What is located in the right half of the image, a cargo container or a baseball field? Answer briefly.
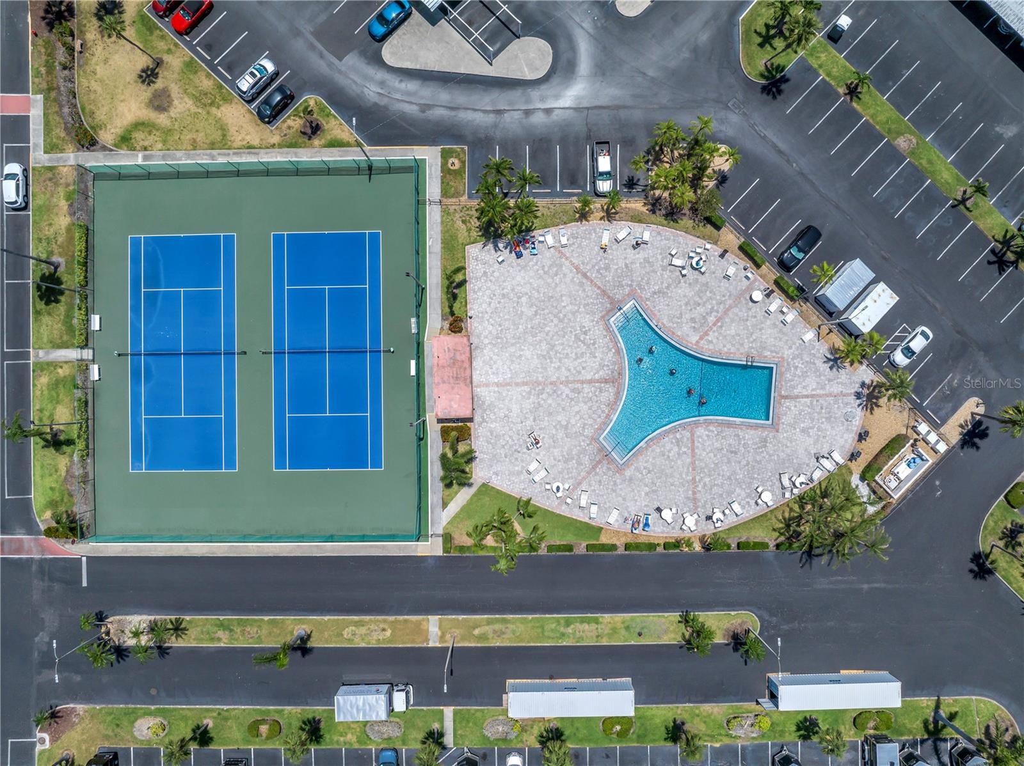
cargo container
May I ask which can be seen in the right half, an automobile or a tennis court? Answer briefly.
automobile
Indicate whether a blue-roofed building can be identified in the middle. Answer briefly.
No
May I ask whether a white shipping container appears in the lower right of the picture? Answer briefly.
Yes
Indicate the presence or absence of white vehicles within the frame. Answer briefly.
Yes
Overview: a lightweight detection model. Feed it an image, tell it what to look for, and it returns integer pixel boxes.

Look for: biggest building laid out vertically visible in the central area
[433,335,474,418]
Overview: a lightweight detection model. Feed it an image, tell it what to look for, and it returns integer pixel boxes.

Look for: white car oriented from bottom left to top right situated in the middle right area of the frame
[888,323,934,368]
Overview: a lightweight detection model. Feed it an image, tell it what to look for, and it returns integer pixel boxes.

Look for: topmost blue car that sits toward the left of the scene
[368,0,414,42]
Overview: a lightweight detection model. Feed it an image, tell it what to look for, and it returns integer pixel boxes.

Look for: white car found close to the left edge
[1,162,28,208]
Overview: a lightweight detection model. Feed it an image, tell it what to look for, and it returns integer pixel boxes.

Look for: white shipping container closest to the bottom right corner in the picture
[761,672,901,711]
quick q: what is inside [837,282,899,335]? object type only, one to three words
shipping container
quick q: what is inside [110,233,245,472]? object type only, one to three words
tennis court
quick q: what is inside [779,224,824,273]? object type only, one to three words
car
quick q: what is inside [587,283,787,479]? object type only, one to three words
swimming pool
